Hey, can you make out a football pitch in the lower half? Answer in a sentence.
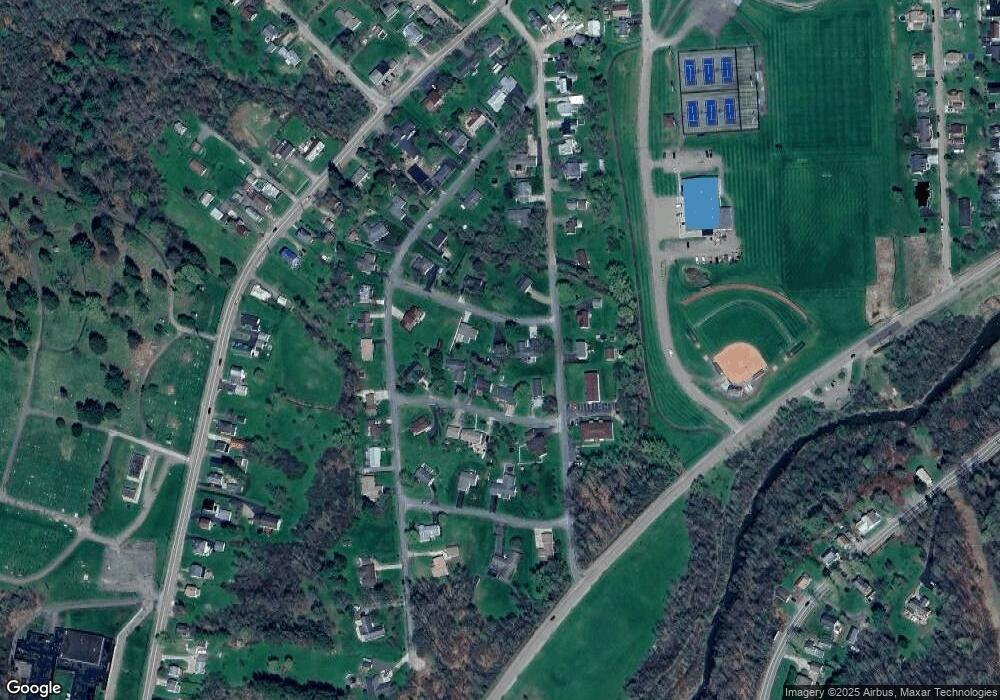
No, I can find no football pitch in the lower half.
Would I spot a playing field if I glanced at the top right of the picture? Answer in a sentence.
Yes, at the top right of the picture there is a playing field.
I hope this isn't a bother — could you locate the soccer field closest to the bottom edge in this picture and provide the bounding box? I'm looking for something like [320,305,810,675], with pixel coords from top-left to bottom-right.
[787,155,867,288]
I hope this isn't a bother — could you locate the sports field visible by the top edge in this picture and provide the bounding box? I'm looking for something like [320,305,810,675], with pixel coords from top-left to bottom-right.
[785,17,876,149]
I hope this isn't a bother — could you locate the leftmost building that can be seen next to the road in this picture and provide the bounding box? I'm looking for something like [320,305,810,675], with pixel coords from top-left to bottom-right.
[14,629,113,700]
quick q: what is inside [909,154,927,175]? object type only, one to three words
house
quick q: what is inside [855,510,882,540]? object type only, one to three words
house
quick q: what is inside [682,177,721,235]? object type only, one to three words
building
